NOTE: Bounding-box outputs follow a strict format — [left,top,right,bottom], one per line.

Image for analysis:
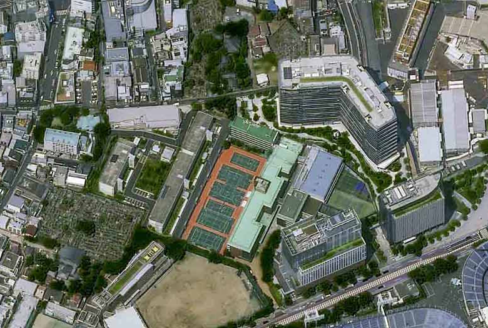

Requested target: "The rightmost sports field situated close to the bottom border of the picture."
[138,253,265,328]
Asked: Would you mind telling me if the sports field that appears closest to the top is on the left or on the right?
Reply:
right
